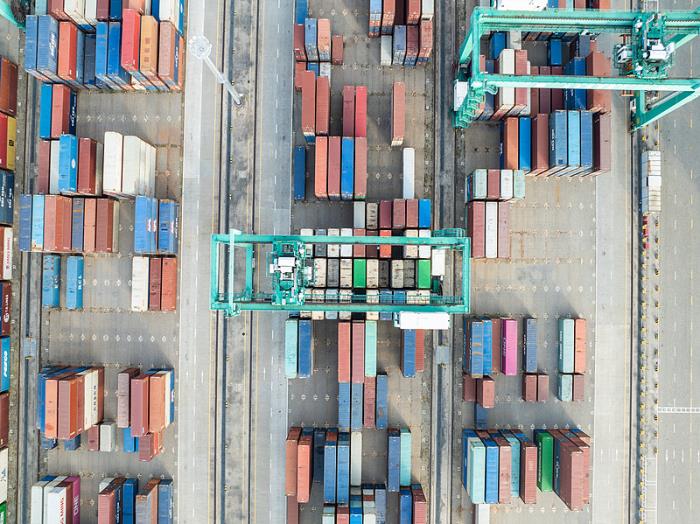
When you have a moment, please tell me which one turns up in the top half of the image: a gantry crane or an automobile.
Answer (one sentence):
What appears in the top half of the image is a gantry crane.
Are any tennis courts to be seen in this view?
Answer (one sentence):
No, there appears to be no tennis court in this shot.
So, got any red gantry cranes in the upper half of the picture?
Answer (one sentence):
No, no red gantry crane appears in the upper half of the picture.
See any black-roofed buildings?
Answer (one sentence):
No, this view has no black-roofed building in it.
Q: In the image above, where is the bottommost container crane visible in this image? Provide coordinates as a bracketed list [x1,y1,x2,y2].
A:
[208,229,470,329]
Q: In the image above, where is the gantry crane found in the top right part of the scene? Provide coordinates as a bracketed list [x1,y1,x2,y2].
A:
[447,0,700,125]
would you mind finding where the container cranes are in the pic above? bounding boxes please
[208,229,470,329]
[0,0,27,34]
[447,0,700,125]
